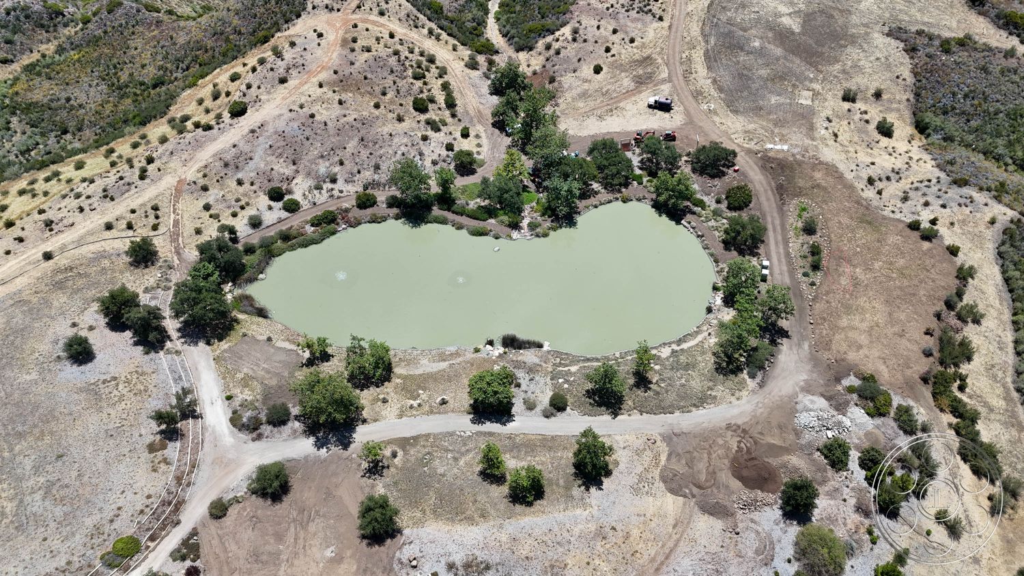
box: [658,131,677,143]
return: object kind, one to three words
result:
vehicle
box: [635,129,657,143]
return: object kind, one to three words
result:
work vehicle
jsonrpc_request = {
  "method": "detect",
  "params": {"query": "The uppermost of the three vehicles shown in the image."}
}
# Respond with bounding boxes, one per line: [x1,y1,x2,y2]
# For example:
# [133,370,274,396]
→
[645,95,675,110]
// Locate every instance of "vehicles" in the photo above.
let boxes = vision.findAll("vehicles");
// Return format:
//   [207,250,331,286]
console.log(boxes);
[658,131,677,143]
[645,95,675,110]
[635,129,657,143]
